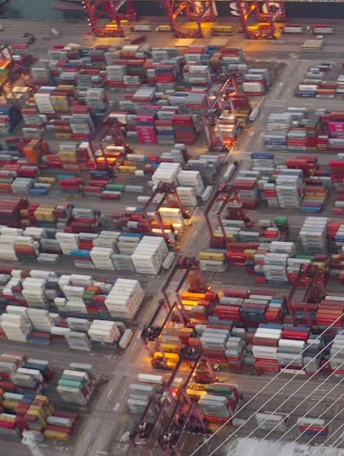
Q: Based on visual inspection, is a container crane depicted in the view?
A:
Yes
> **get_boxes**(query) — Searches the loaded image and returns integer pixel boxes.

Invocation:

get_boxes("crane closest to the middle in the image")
[156,191,203,250]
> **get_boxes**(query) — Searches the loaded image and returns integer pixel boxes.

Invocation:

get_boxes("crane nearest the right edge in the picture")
[283,262,327,308]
